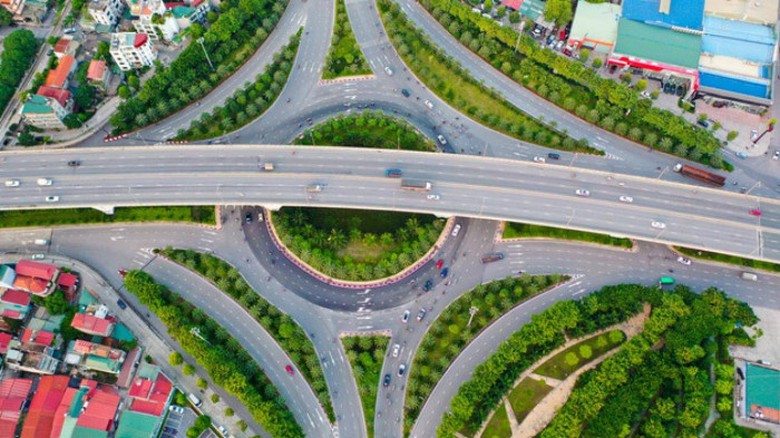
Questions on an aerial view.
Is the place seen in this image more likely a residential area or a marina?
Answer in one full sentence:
It's a residential area.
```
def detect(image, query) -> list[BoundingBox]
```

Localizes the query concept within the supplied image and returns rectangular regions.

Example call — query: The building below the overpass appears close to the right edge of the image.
[743,363,780,427]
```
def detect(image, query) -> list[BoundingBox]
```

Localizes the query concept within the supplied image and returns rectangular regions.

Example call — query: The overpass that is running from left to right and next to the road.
[0,145,780,263]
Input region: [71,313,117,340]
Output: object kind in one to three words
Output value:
house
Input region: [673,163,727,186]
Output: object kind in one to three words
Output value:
truck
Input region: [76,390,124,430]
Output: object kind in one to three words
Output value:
building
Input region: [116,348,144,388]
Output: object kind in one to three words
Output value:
shed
